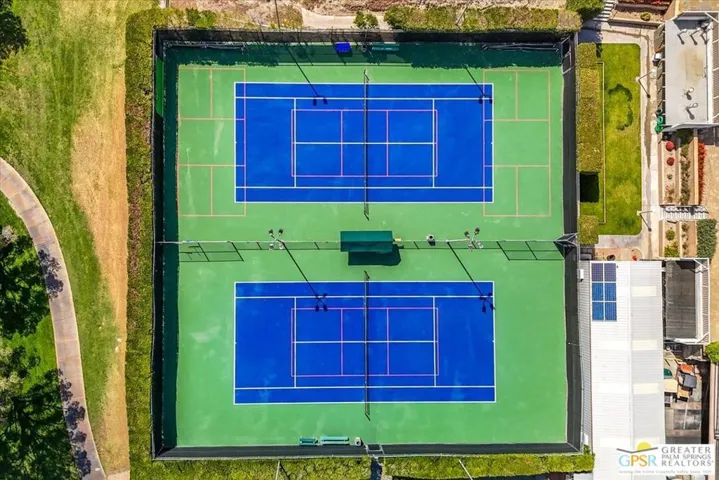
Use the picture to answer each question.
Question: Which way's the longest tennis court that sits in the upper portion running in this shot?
from left to right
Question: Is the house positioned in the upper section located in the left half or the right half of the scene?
right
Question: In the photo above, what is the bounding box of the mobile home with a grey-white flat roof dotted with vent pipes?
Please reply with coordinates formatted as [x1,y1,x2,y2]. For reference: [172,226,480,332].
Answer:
[654,13,719,134]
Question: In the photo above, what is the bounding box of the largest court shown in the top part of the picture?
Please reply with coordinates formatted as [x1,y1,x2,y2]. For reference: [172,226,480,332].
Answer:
[235,83,494,202]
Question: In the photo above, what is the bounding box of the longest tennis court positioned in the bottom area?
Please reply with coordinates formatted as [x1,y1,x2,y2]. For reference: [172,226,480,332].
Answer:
[234,281,496,404]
